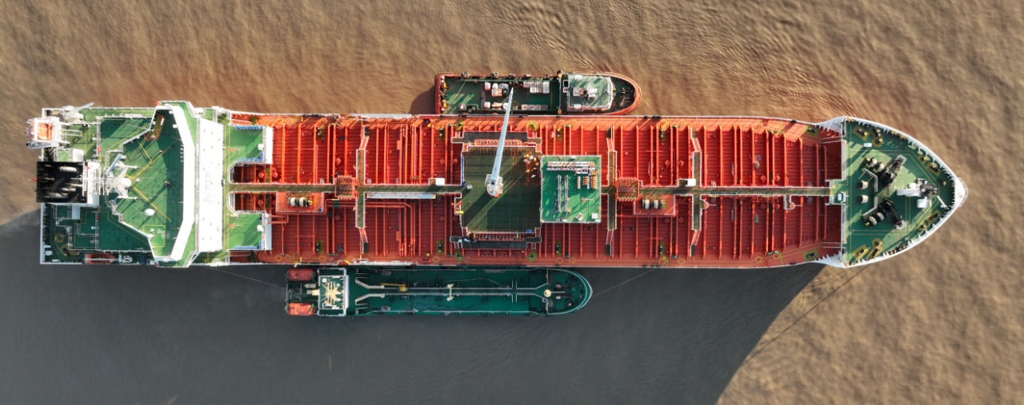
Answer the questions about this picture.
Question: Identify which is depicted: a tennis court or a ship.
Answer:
ship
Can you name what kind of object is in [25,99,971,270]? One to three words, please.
ship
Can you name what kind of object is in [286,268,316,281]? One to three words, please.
boat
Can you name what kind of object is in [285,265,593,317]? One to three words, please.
ship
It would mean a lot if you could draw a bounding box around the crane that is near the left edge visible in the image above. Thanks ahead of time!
[51,101,95,126]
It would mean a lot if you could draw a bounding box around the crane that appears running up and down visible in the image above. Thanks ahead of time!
[480,89,513,206]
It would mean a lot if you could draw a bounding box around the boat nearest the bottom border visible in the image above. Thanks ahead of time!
[286,302,316,316]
